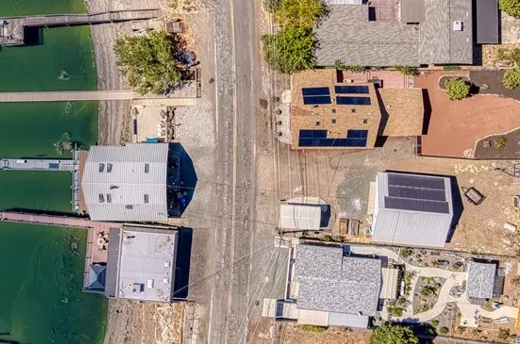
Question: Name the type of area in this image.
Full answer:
It's a residential area.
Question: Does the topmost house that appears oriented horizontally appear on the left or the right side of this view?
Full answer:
The topmost house that appears oriented horizontally is on the right side of the image.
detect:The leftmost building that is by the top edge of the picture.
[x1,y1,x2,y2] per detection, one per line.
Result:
[314,0,472,66]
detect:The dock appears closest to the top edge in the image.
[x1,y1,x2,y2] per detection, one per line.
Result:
[0,5,159,47]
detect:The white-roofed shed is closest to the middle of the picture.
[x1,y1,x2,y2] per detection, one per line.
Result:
[279,205,321,230]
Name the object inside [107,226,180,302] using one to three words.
house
